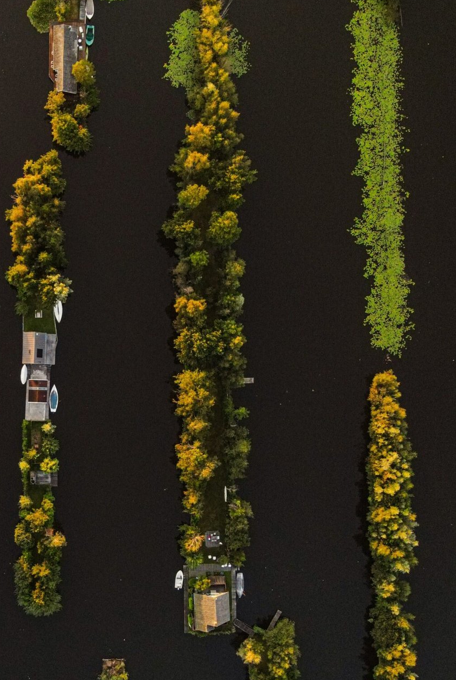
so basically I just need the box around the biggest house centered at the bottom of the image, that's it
[193,591,229,634]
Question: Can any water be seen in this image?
Yes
